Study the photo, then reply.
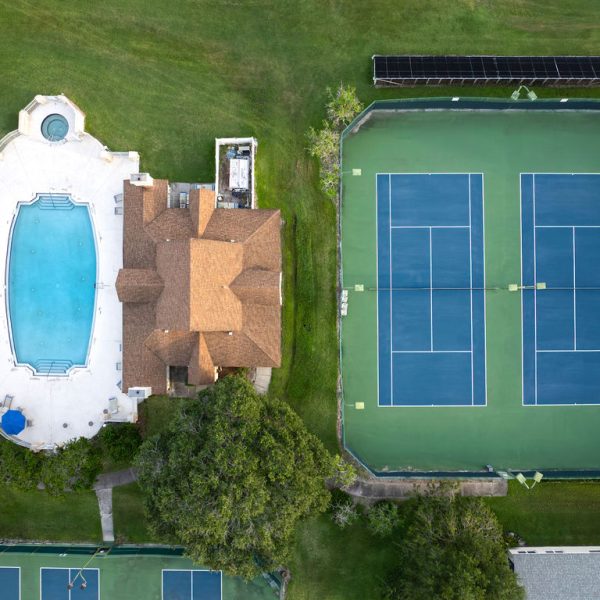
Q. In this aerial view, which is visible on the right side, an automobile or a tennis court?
tennis court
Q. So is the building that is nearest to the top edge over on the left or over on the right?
left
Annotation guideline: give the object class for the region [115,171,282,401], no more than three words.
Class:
building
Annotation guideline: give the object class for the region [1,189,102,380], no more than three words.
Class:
swimming pool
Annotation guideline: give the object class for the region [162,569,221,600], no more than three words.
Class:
sports court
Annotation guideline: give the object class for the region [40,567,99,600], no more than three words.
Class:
sports court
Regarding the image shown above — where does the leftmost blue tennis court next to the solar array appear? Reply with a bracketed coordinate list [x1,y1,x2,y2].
[377,173,486,407]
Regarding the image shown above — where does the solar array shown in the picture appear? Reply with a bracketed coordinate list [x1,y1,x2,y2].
[371,54,600,87]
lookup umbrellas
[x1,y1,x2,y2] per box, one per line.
[1,408,28,434]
